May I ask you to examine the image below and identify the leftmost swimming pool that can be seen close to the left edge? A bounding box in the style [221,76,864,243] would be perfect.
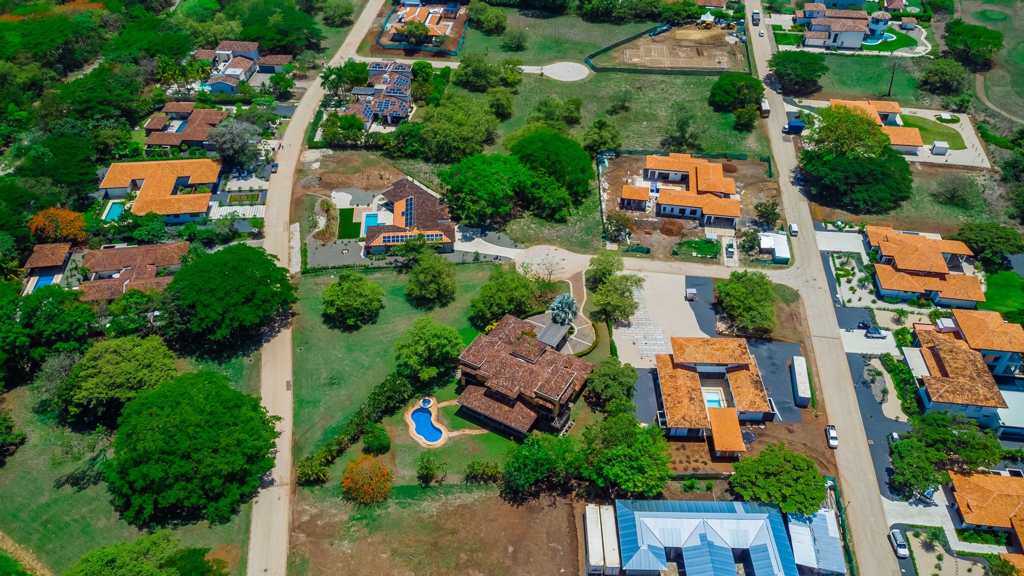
[29,274,56,292]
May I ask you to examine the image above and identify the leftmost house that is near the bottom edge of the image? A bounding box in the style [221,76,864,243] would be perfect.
[616,499,800,576]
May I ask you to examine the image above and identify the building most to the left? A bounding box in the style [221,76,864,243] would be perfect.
[24,242,74,277]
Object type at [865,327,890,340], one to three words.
vehicle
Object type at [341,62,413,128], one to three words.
house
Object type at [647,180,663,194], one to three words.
swimming pool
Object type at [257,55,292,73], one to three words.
building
